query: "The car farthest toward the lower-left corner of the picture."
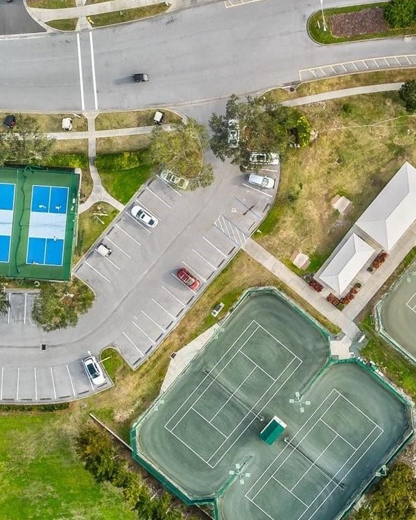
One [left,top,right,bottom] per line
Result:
[86,356,105,384]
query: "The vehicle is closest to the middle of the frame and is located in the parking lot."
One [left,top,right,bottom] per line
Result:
[176,267,202,291]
